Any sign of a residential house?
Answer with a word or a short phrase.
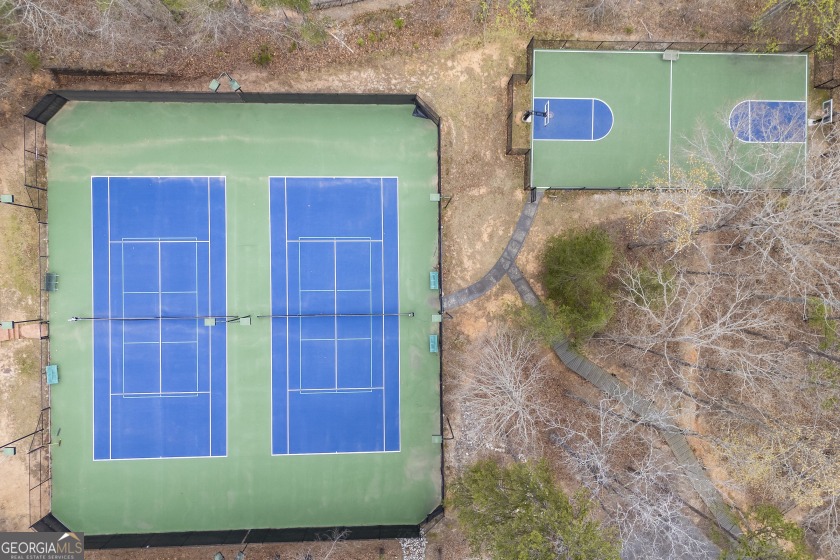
No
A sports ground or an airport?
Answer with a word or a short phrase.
sports ground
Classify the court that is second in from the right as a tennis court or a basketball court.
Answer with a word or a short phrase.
tennis court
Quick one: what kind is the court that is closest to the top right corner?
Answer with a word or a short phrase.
basketball court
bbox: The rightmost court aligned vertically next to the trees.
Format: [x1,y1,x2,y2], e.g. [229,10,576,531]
[247,103,441,528]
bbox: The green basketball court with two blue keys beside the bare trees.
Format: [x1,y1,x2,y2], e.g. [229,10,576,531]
[531,49,811,190]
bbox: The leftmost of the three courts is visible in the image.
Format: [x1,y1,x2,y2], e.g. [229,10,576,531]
[46,102,250,531]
